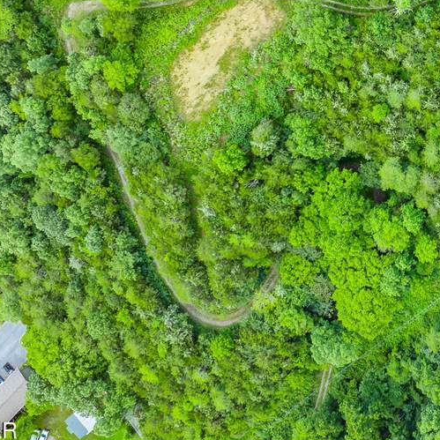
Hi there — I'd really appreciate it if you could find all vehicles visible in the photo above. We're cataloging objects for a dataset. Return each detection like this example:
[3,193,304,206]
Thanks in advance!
[0,359,13,375]
[39,429,50,440]
[30,430,40,440]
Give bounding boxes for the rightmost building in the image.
[62,407,96,440]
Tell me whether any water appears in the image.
No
